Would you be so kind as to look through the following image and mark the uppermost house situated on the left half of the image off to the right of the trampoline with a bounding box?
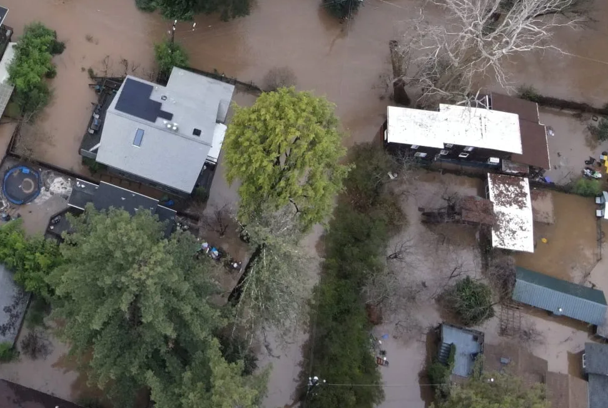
[80,67,235,200]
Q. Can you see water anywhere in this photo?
Yes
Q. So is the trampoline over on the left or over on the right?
left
